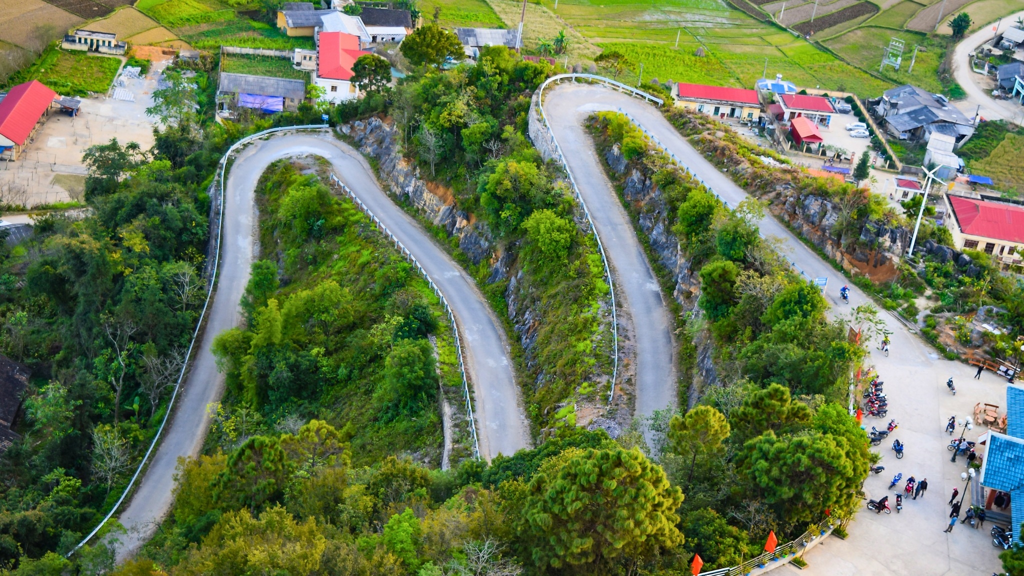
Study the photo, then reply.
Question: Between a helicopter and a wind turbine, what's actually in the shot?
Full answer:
I can see a wind turbine in this picture.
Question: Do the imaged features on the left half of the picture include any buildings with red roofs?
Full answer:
Yes, you'll find a building with a red roof on the left half of the picture.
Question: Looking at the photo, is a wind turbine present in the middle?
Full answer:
No, I see no wind turbine in the middle.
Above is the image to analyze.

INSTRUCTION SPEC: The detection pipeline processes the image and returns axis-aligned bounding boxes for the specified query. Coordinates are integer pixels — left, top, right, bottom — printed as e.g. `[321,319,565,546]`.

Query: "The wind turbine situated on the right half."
[904,160,954,259]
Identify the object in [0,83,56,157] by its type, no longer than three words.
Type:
building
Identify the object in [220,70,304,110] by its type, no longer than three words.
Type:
building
